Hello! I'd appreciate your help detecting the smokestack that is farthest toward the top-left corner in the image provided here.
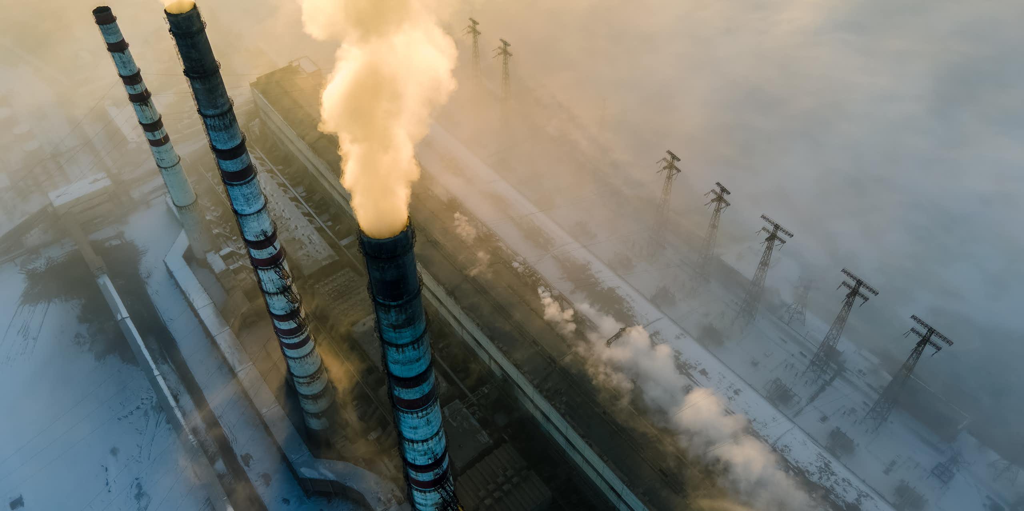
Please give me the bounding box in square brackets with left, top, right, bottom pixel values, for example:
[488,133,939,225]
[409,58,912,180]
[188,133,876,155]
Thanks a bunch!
[93,5,217,257]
